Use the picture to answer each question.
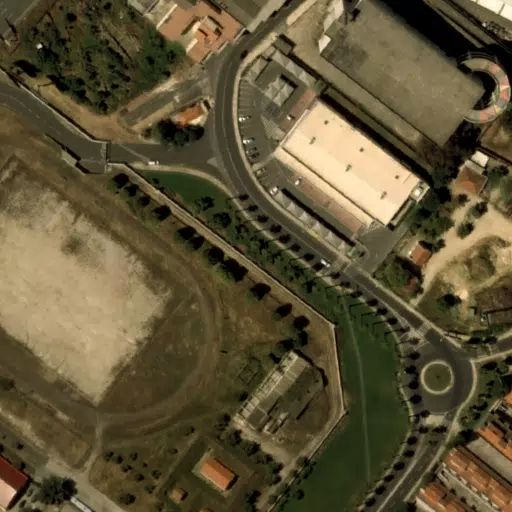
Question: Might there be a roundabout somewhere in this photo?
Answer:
Yes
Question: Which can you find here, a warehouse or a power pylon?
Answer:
warehouse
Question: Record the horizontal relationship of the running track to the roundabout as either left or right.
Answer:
to the left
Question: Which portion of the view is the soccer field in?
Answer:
left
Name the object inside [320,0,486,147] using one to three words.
building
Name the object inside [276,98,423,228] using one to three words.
warehouse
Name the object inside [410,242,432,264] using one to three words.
shed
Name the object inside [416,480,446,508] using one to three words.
house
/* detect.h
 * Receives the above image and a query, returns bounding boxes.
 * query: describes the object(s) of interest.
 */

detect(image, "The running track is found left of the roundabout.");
[0,116,226,435]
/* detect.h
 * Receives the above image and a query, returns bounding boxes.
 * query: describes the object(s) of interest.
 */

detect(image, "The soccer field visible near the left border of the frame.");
[0,155,169,407]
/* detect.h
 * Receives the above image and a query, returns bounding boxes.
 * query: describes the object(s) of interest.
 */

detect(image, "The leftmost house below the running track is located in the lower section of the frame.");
[0,455,32,508]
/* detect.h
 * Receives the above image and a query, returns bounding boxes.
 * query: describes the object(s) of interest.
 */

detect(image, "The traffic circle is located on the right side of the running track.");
[404,344,471,410]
